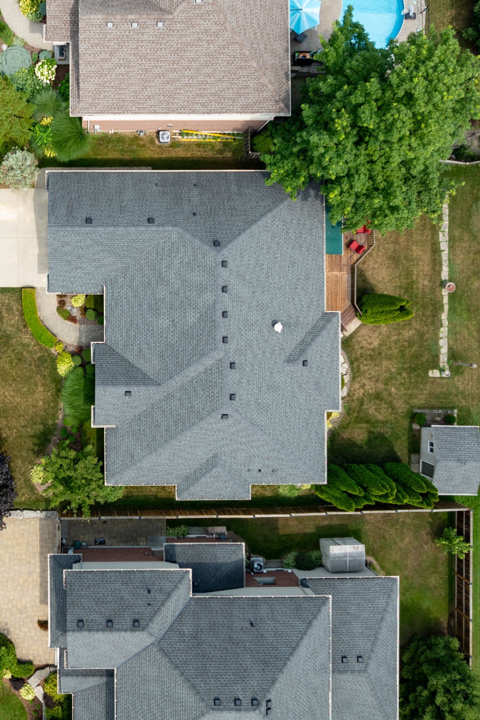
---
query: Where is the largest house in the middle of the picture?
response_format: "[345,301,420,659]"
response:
[45,170,343,502]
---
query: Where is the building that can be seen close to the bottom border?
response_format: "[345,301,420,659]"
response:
[46,533,401,720]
